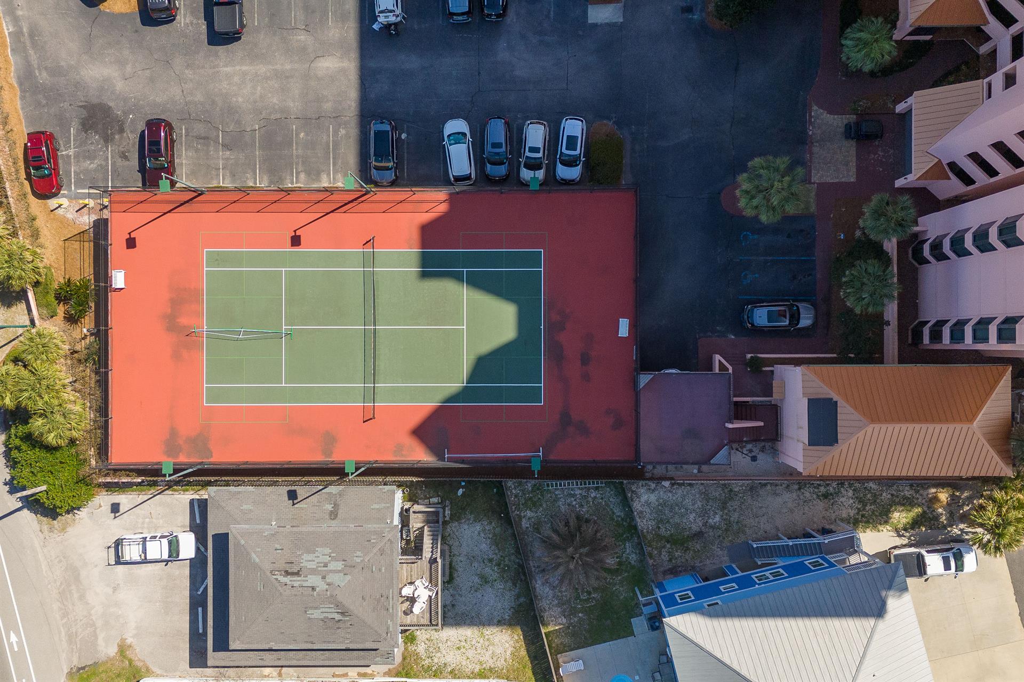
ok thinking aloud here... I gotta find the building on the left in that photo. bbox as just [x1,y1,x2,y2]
[208,483,405,667]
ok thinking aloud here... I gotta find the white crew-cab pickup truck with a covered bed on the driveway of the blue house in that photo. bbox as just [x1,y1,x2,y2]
[889,543,977,578]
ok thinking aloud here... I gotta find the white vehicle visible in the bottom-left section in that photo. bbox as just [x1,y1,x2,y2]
[111,531,199,564]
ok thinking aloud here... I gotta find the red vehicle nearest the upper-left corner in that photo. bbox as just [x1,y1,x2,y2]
[26,129,67,197]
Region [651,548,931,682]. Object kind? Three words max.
house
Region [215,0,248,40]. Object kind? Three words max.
truck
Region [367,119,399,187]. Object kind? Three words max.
car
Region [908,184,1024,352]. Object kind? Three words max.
building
